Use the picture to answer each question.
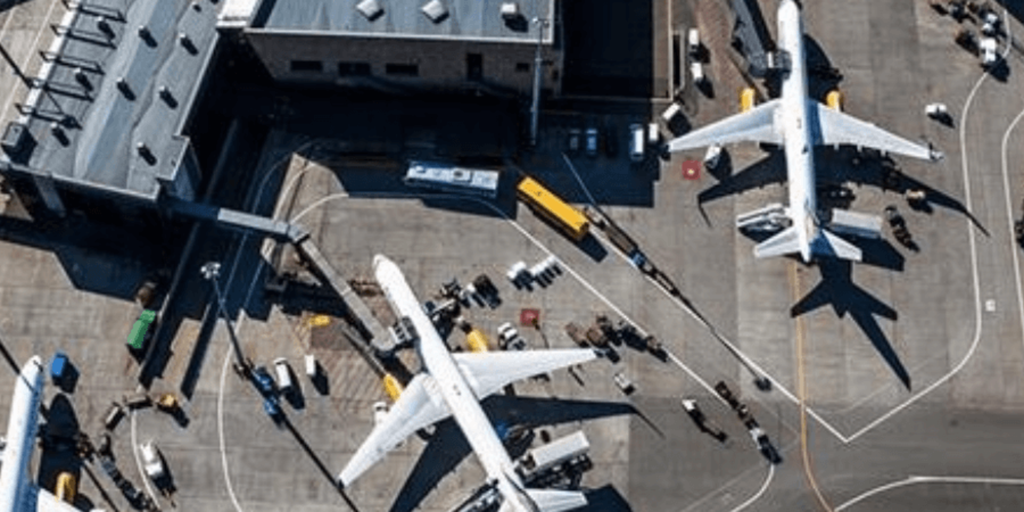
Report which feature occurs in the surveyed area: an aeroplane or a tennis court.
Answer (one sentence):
Of the two, only an aeroplane appears.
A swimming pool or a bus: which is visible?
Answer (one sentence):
Visible in the photo is a bus.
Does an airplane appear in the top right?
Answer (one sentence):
Yes, an airplane shows up in the top right.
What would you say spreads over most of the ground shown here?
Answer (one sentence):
For the most part, this view shows paved ground.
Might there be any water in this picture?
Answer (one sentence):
No, water can't be seen anywhere here.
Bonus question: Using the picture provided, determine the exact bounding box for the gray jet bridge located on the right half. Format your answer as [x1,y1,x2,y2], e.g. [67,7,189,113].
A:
[726,0,795,89]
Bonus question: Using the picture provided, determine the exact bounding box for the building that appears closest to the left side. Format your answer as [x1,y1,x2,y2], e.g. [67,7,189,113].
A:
[0,0,233,239]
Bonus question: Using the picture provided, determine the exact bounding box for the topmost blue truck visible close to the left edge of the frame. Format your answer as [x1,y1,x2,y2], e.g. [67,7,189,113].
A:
[50,353,75,387]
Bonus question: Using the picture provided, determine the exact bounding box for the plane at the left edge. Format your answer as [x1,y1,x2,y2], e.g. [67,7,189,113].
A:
[0,357,77,512]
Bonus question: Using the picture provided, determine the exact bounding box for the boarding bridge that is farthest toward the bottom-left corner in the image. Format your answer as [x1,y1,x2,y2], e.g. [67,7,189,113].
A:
[165,200,418,369]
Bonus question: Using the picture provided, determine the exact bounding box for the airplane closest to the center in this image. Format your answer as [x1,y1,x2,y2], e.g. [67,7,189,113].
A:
[336,254,610,512]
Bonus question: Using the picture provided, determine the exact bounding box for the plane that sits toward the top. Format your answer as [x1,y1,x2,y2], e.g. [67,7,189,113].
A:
[665,0,946,265]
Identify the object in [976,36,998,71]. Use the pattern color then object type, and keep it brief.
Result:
white truck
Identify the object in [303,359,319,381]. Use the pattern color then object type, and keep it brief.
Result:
white vehicle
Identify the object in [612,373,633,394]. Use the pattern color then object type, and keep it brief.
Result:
gray car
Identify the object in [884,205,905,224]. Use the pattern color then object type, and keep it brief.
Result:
gray work vehicle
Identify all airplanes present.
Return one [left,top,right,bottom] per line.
[0,357,77,512]
[665,0,946,265]
[336,254,610,512]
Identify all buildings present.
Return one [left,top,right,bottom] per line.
[245,0,557,98]
[0,0,233,239]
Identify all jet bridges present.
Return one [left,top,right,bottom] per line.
[165,200,418,369]
[726,0,795,89]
